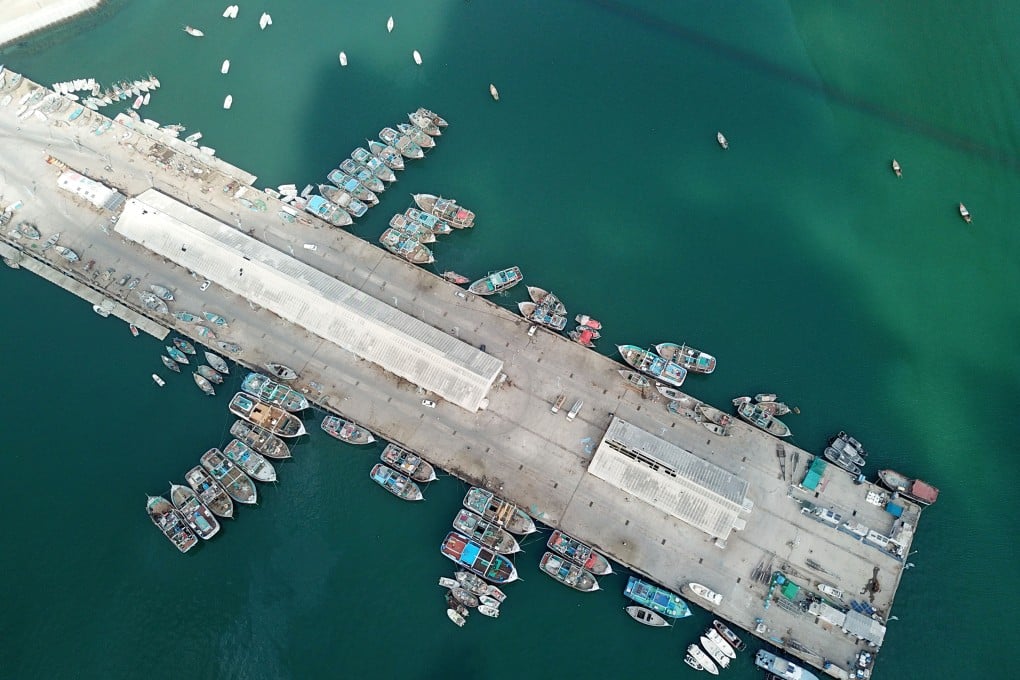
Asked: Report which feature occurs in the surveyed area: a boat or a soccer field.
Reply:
boat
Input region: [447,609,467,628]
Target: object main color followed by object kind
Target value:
white boat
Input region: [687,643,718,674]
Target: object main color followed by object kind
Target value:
white boat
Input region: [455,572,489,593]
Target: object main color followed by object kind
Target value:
gray boat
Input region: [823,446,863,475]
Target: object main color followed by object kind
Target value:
gray boat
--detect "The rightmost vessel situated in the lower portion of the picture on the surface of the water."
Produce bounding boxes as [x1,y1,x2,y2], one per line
[875,468,939,506]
